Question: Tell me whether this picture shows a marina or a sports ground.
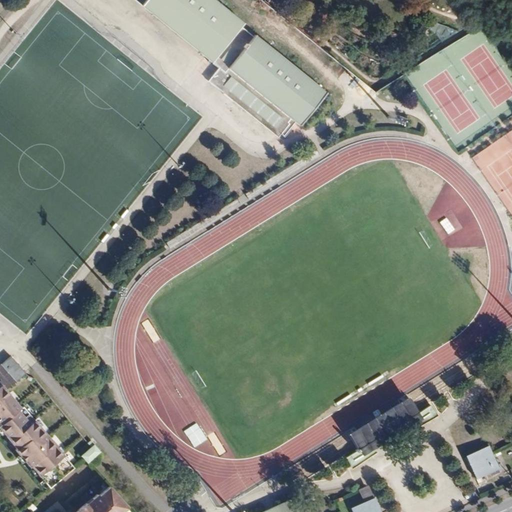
sports ground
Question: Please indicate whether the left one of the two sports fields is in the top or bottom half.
top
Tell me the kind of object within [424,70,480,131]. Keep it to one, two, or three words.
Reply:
tennis court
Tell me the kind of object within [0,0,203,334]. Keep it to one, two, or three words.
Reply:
sports field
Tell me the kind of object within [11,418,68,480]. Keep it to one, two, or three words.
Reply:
house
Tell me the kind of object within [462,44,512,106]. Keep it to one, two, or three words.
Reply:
tennis court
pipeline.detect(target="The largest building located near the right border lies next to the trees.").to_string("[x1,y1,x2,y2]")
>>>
[464,444,502,480]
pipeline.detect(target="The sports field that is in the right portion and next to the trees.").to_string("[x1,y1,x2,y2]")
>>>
[148,160,488,457]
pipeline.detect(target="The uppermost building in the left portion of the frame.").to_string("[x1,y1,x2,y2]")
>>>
[144,0,246,62]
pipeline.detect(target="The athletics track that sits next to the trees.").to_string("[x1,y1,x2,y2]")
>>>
[116,140,512,510]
